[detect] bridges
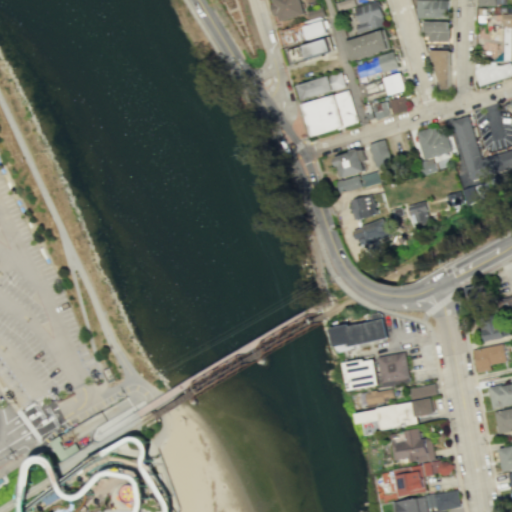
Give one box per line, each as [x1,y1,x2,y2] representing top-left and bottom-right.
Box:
[137,301,328,424]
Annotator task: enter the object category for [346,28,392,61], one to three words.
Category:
building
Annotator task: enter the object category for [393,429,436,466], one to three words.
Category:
house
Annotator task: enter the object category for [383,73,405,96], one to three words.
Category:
house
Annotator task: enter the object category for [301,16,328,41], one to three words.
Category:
building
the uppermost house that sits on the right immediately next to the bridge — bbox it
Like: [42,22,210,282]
[329,319,387,353]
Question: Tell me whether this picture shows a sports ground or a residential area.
residential area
